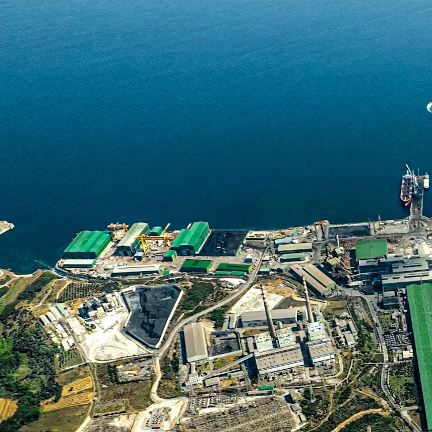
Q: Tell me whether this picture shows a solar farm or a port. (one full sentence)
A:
What you see here is a port.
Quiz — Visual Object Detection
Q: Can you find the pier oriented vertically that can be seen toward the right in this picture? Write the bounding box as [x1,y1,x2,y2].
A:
[409,179,423,219]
